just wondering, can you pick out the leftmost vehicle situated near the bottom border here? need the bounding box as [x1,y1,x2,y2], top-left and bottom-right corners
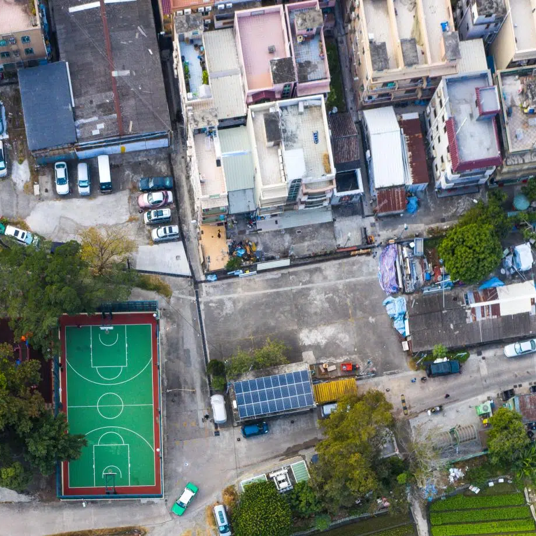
[173,482,199,517]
